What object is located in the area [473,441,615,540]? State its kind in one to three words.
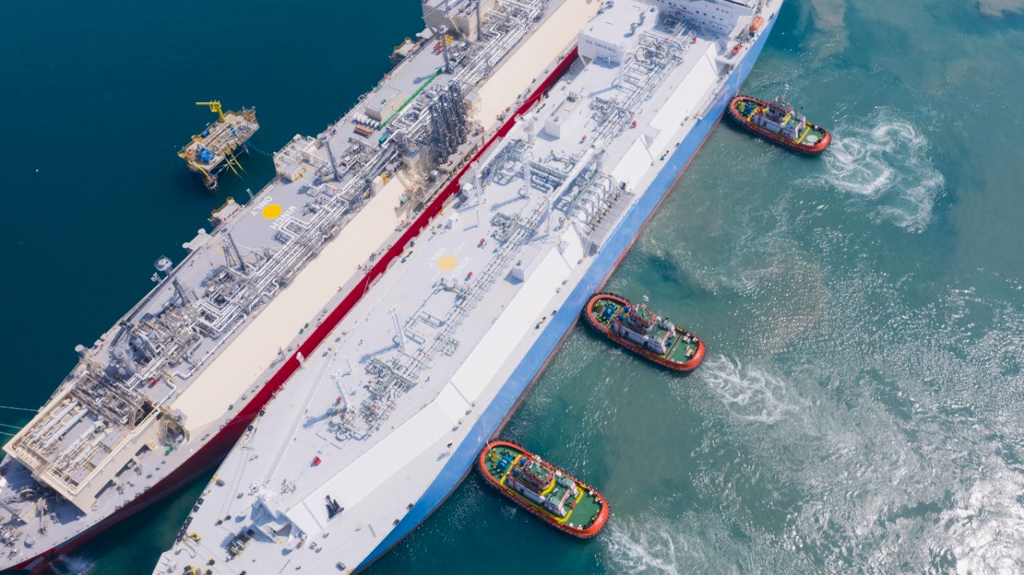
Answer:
boat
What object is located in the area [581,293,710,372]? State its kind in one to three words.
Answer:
boat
